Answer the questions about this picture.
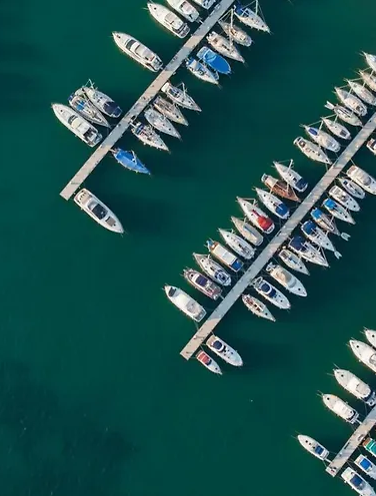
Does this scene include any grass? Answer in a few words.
No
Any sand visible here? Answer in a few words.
No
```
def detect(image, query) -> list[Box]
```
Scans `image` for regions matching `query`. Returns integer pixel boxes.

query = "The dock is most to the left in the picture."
[60,0,235,201]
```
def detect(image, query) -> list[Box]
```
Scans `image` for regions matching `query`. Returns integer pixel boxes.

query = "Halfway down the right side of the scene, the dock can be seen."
[180,111,376,361]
